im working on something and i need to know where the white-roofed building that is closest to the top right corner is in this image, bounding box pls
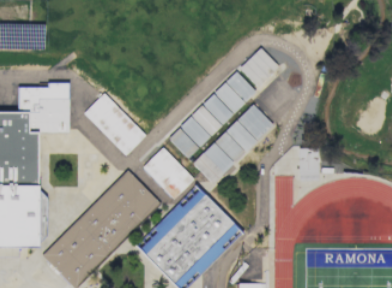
[242,47,279,88]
